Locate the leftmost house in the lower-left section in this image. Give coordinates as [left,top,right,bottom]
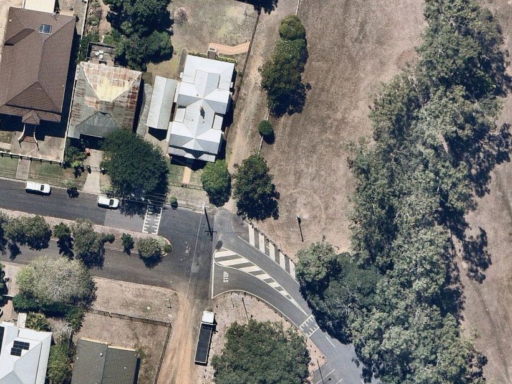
[0,322,54,384]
